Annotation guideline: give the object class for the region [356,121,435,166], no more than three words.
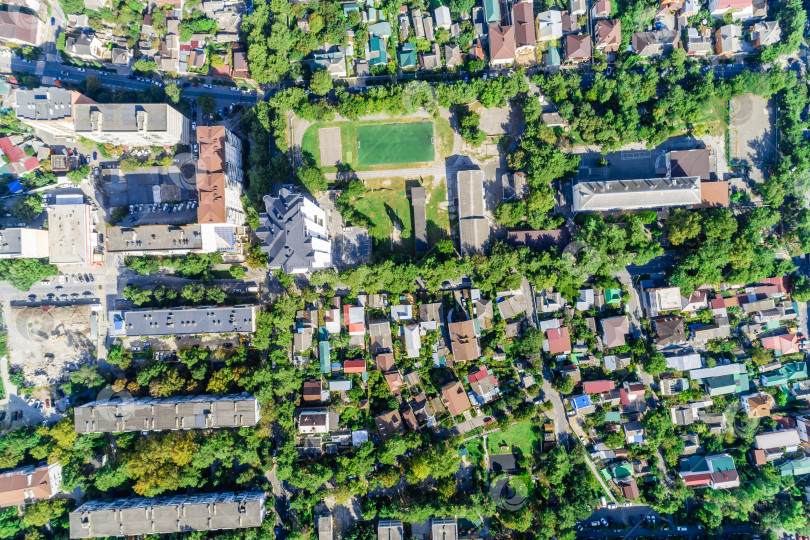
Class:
soccer field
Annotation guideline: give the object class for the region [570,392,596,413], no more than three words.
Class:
house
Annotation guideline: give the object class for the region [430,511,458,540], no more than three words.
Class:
building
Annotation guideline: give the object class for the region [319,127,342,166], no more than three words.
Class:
sports court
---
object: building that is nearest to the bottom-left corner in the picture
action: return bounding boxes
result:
[0,459,65,504]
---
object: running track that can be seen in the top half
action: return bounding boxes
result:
[292,108,464,182]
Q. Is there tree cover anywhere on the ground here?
Yes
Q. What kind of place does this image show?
residential area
